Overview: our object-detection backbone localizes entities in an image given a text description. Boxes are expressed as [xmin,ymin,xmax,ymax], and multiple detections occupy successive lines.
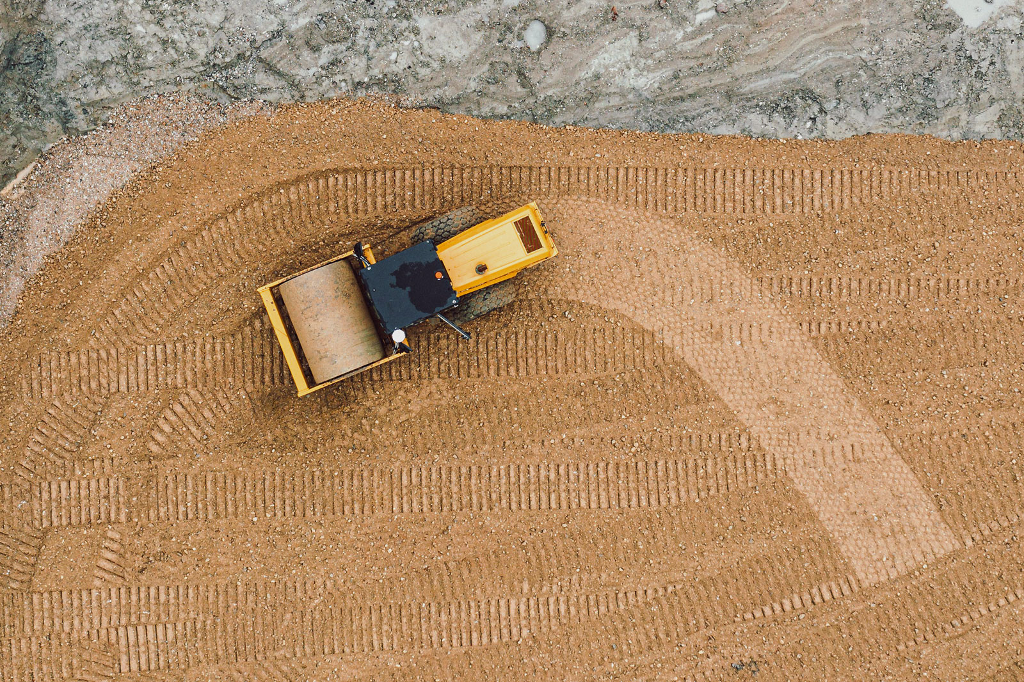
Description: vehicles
[258,201,559,396]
